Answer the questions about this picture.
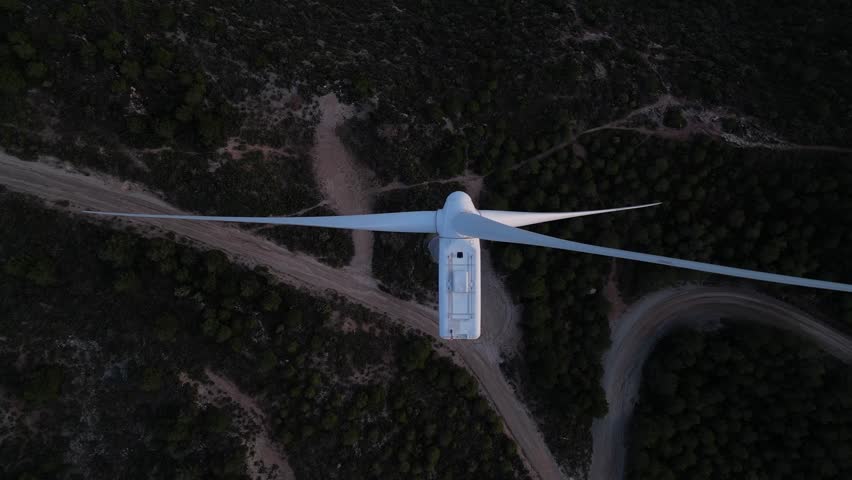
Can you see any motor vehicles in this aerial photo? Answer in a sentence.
No, I find no motor vehicle anywhere in the image.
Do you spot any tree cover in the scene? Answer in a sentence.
Yes, tree cover shows up in the scene.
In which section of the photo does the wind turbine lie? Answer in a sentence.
The wind turbine is in the center part of the image.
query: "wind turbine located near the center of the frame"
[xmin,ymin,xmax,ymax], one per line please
[89,192,852,339]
